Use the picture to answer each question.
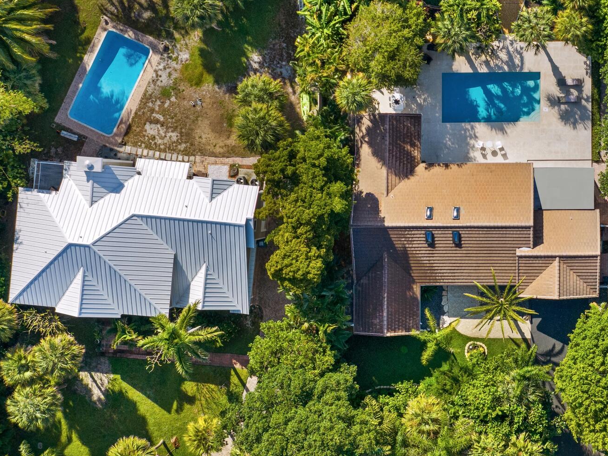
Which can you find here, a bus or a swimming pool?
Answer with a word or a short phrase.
swimming pool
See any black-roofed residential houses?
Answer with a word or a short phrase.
No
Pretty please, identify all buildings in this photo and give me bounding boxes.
[8,155,267,318]
[351,114,601,337]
